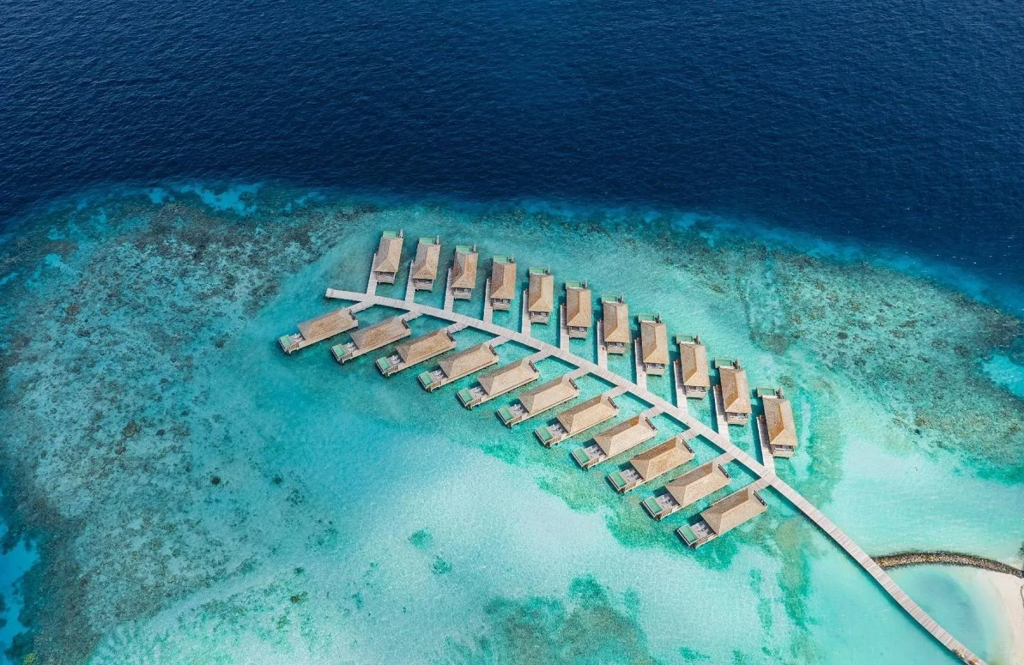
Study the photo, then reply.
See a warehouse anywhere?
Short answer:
No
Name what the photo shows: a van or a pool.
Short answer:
pool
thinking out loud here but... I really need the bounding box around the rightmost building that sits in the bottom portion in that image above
[757,388,797,460]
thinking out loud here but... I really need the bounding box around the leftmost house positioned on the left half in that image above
[283,307,358,364]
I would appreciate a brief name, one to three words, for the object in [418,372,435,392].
swimming pool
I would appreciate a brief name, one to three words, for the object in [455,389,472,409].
swimming pool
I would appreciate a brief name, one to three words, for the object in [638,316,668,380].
house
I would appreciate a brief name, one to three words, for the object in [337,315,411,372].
house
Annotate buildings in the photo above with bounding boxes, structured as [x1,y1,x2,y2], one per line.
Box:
[337,315,411,372]
[382,327,458,385]
[374,233,405,291]
[528,271,553,329]
[616,435,694,498]
[567,282,591,344]
[579,414,656,475]
[715,359,751,429]
[602,297,628,359]
[425,342,500,398]
[412,240,441,298]
[504,374,580,432]
[757,388,797,460]
[677,335,709,402]
[463,358,537,414]
[638,316,668,380]
[451,247,478,307]
[686,487,767,553]
[651,461,730,526]
[491,259,516,317]
[542,393,618,452]
[283,307,358,364]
